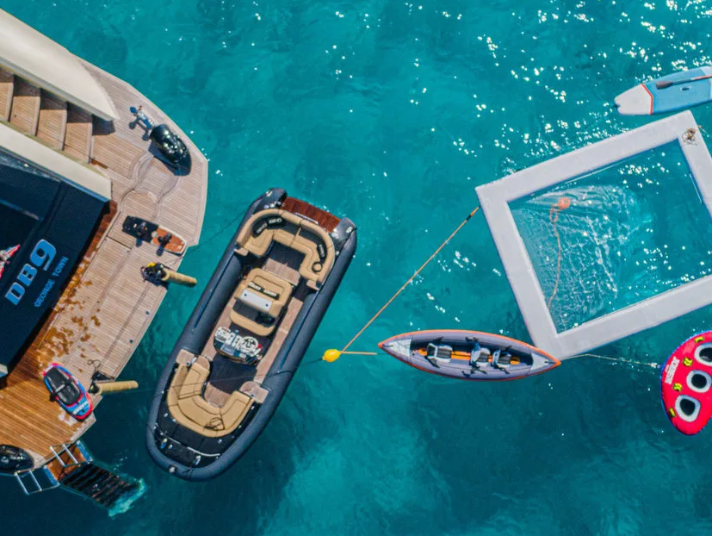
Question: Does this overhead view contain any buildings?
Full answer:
No, the picture doesn't show any building.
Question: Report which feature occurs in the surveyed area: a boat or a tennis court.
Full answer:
This aerial view contains a boat.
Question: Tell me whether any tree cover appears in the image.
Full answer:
No, there's no tree cover in this view.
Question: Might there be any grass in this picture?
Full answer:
No, the scene doesn't show any grass.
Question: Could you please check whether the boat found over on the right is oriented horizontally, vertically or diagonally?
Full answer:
In this picture, the boat found over on the right lies horizontally.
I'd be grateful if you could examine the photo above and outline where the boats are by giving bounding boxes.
[146,186,359,481]
[0,8,212,509]
[374,325,563,379]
